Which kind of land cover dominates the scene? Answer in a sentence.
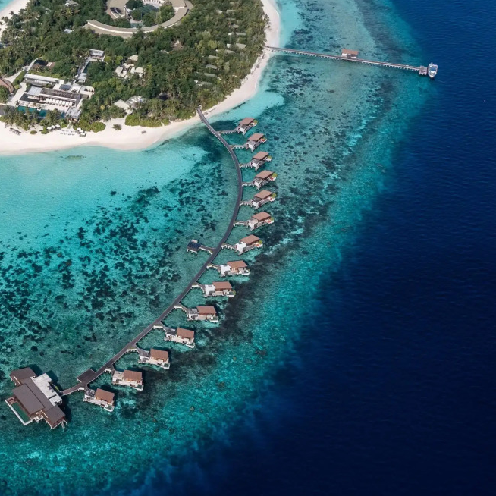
For the most part, this view shows water.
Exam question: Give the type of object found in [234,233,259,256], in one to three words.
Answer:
house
